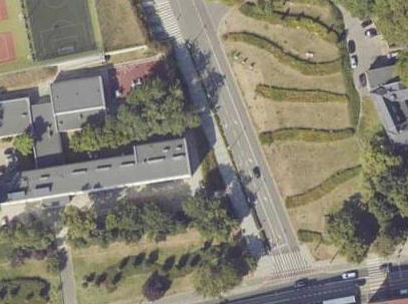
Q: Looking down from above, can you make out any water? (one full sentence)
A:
No, there is no water in the image.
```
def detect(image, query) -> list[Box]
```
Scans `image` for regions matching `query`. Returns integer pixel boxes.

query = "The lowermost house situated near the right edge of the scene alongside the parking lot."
[368,82,408,146]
